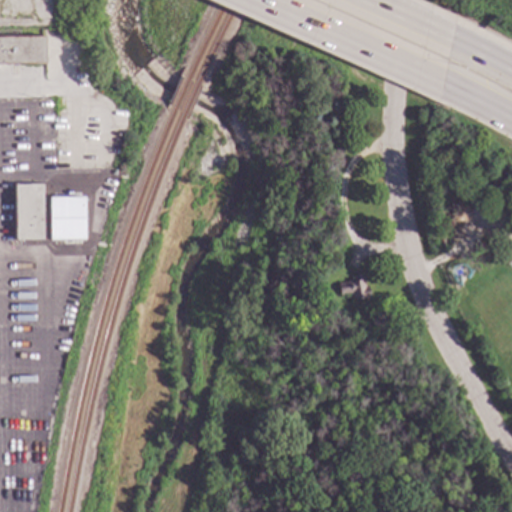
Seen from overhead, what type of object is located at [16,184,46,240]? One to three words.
building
